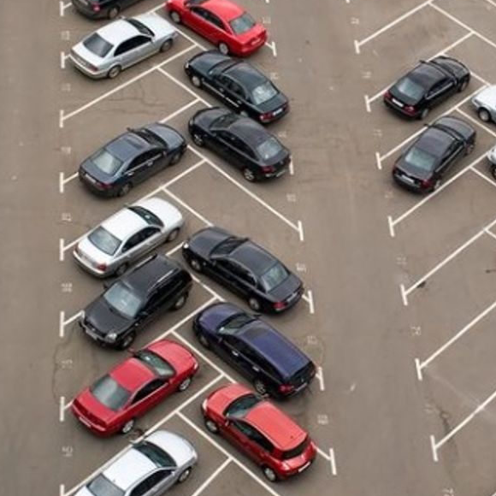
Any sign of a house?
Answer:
No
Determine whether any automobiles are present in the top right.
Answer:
Yes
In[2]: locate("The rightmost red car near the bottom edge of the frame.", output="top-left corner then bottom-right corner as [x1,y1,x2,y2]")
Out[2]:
[200,384,320,484]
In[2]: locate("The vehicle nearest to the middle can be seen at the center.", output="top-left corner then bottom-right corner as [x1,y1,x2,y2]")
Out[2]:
[185,227,305,319]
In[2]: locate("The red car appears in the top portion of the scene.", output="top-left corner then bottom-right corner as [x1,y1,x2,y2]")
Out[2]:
[167,0,267,59]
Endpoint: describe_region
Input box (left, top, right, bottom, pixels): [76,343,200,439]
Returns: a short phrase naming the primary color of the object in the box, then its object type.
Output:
red car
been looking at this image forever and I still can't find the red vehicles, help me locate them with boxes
[76,343,200,439]
[167,0,267,59]
[200,384,320,484]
